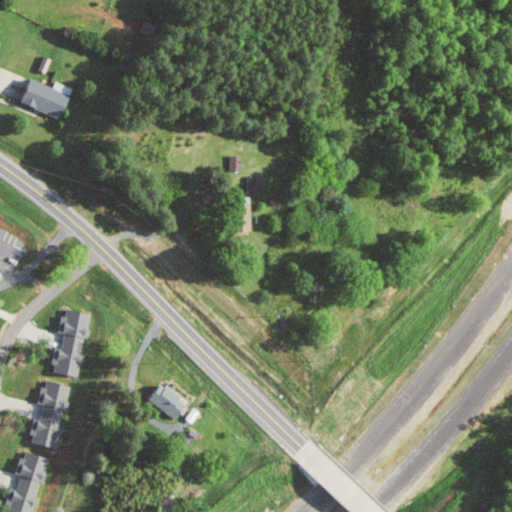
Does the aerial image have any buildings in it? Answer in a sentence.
Yes, there's a building here.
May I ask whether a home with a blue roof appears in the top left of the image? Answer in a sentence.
No, no home with a blue roof appears in the top left of the image.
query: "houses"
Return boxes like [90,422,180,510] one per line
[148,383,191,421]
[5,454,49,512]
[244,196,254,234]
[30,382,70,449]
[50,309,90,378]
[20,80,74,122]
[247,177,265,196]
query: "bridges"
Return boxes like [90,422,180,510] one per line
[294,438,386,512]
